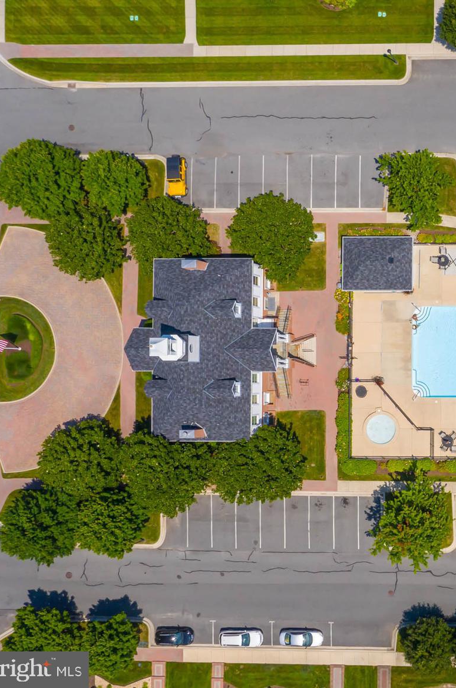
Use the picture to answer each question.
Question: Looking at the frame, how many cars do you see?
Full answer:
Looking from above, you can make out 4 cars.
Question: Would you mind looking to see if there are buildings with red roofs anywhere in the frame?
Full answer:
No, no building with a red roof is visible in the view.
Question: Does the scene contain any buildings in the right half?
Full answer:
Yes, looking in the right half, one can make out a building.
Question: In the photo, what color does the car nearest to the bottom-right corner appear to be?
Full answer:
In this view, the car nearest to the bottom-right corner is white.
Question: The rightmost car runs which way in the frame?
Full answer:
The rightmost car runs from side to side in the image.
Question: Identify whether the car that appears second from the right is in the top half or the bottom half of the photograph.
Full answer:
You can find the car that appears second from the right in the bottom half.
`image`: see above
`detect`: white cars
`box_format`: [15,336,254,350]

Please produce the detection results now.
[219,627,263,649]
[279,628,324,649]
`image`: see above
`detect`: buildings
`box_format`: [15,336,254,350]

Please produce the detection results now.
[123,257,319,443]
[342,236,416,293]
